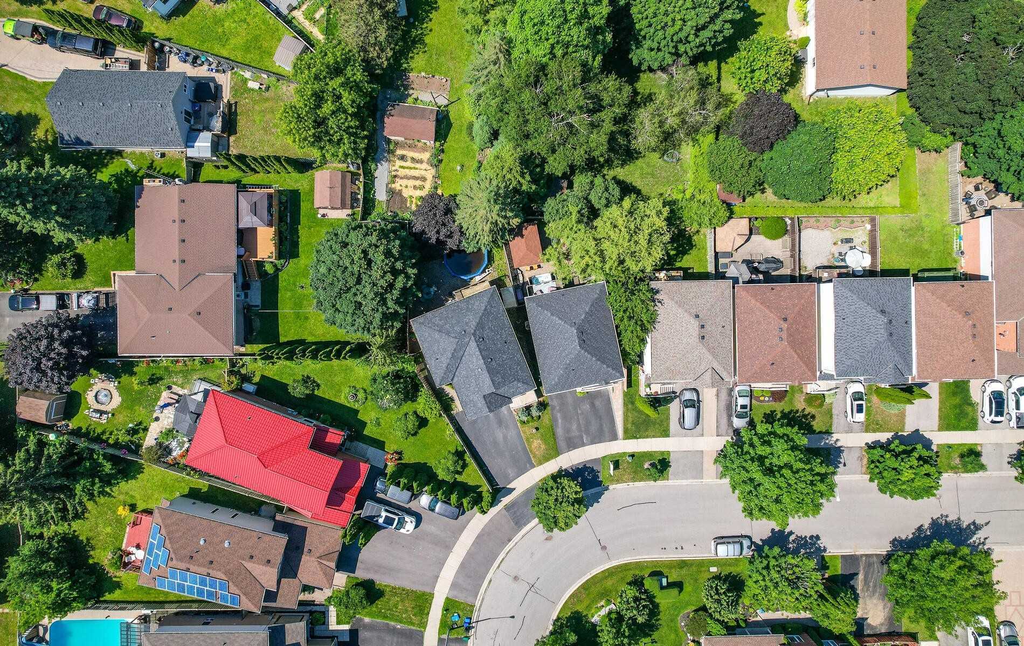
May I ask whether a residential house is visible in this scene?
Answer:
Yes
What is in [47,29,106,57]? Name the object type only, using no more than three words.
truck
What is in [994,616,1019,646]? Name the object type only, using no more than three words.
car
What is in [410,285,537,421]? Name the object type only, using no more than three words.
house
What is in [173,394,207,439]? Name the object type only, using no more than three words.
gazebo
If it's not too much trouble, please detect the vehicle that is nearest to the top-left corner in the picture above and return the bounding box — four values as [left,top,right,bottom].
[4,18,46,43]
